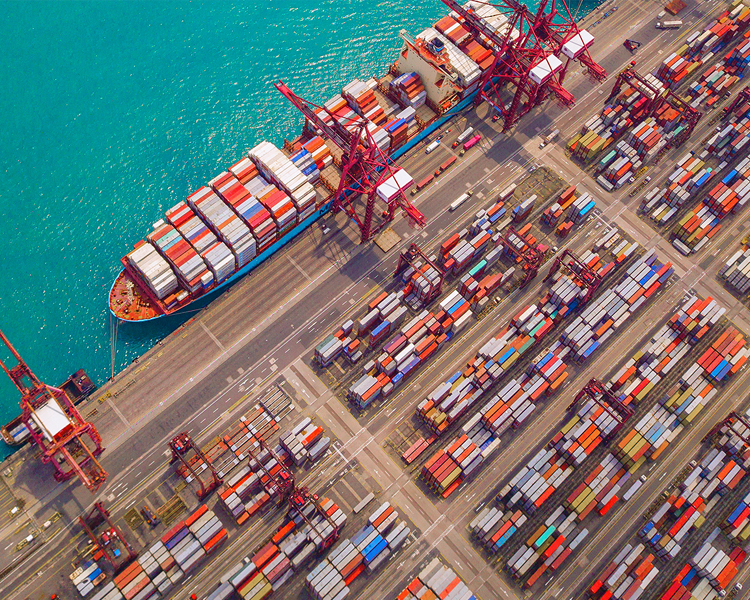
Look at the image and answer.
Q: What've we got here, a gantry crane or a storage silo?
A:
gantry crane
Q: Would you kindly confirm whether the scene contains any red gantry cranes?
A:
Yes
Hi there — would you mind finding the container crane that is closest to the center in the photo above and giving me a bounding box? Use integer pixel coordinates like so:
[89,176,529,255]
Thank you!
[393,242,449,308]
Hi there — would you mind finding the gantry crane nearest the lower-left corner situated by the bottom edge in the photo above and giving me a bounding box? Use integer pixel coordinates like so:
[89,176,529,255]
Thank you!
[78,502,141,577]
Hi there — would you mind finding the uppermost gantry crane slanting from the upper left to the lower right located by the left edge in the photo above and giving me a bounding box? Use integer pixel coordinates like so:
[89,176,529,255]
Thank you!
[0,329,111,496]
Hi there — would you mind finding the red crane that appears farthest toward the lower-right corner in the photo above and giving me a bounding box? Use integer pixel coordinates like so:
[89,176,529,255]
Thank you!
[703,409,750,448]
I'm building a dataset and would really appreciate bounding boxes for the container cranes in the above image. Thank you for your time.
[78,502,141,577]
[0,329,111,496]
[642,89,704,152]
[270,80,428,245]
[494,0,607,106]
[544,247,606,310]
[703,409,750,448]
[244,437,300,508]
[393,242,449,308]
[488,224,547,288]
[282,485,341,558]
[606,67,664,124]
[168,429,226,501]
[724,83,750,116]
[570,374,638,442]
